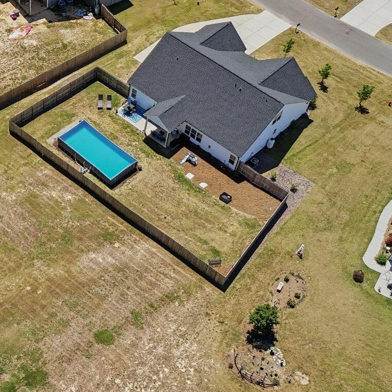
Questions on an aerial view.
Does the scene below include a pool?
Yes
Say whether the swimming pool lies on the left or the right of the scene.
left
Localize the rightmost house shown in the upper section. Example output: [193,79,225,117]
[129,22,316,170]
